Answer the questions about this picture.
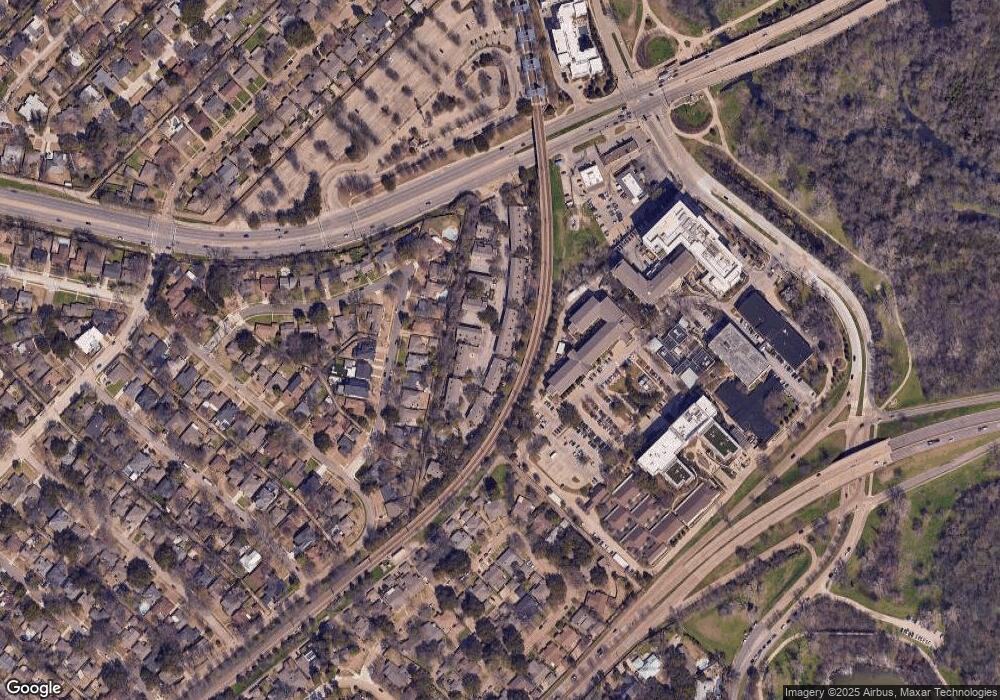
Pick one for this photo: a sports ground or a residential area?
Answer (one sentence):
This image shows a residential area.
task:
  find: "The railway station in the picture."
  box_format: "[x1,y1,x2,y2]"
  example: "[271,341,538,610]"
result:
[495,0,550,104]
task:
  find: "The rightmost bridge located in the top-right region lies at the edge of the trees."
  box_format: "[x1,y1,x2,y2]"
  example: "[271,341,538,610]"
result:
[653,0,907,110]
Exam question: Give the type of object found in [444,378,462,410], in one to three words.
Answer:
building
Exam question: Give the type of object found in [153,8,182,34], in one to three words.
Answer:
house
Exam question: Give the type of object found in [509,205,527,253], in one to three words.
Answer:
building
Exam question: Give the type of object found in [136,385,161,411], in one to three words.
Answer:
house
